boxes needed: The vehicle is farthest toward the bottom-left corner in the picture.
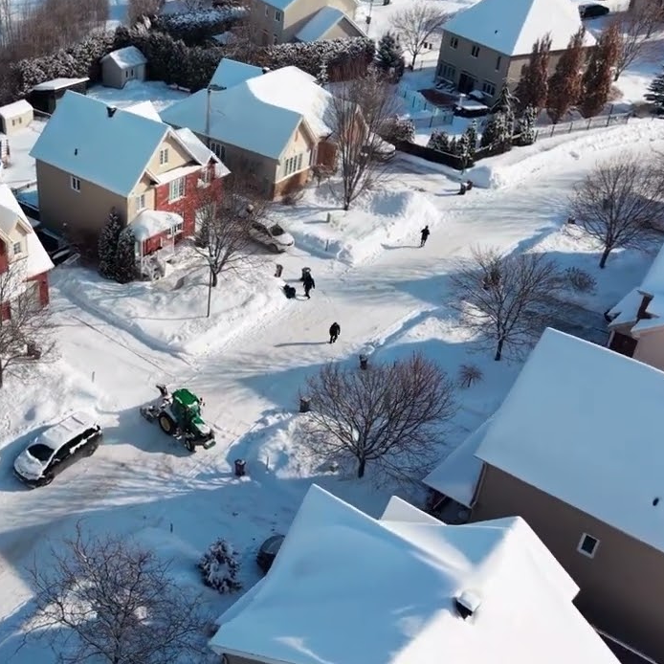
[13,410,104,480]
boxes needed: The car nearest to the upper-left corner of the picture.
[33,219,73,252]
